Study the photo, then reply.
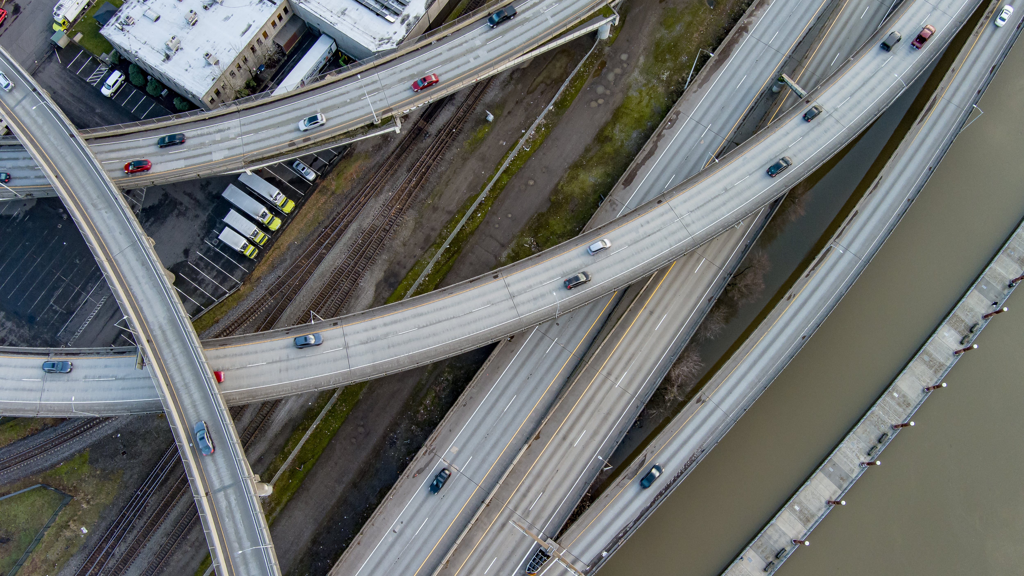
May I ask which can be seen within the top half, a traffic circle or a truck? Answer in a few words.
truck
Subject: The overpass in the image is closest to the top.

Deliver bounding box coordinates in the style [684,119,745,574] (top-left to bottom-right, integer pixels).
[0,0,983,416]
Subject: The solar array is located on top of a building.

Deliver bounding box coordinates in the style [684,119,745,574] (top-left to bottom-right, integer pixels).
[355,0,410,20]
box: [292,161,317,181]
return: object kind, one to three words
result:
car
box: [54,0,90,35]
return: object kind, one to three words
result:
truck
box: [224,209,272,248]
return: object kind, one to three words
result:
truck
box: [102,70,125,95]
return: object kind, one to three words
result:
car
